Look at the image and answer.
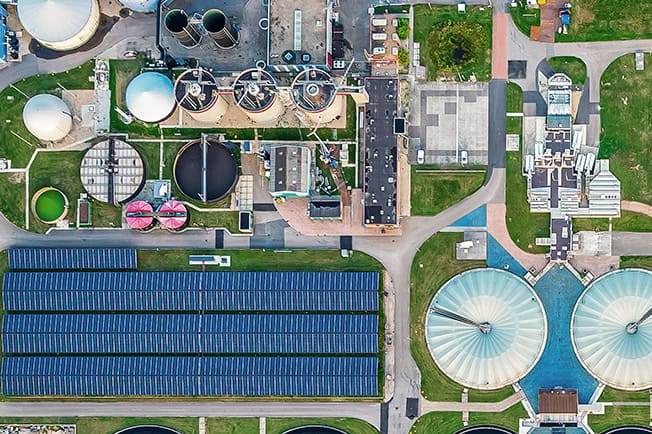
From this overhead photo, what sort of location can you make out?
industrial area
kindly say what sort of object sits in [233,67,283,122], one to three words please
storage tank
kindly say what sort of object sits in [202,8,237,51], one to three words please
silo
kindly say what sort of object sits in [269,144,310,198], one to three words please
building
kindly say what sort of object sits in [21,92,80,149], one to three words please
storage tank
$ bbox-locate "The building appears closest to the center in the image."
[309,197,341,218]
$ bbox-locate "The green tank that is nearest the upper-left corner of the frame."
[31,186,73,223]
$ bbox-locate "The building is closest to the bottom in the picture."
[535,383,579,413]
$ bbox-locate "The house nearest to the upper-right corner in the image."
[543,73,572,130]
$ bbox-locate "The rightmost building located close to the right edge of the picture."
[585,160,620,216]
